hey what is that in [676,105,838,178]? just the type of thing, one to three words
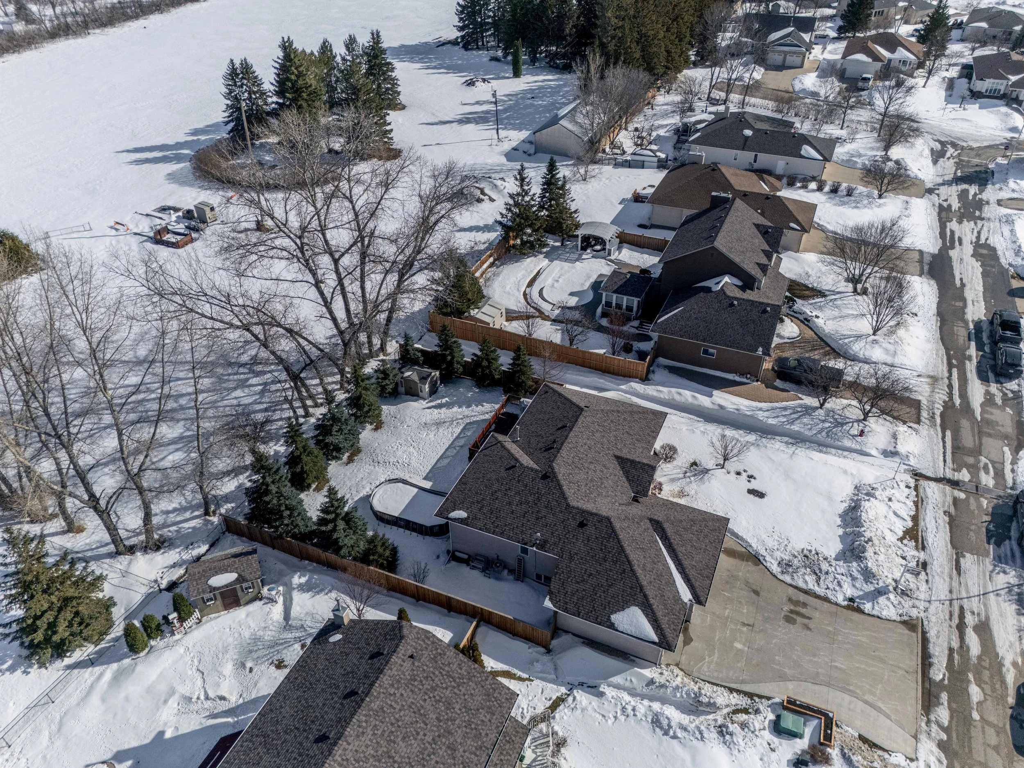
house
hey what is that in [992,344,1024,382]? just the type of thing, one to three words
car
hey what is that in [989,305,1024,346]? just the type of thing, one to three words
truck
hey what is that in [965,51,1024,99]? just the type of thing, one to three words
house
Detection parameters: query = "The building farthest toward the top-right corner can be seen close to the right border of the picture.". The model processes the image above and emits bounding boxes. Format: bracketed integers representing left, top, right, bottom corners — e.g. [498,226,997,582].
[962,7,1024,41]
